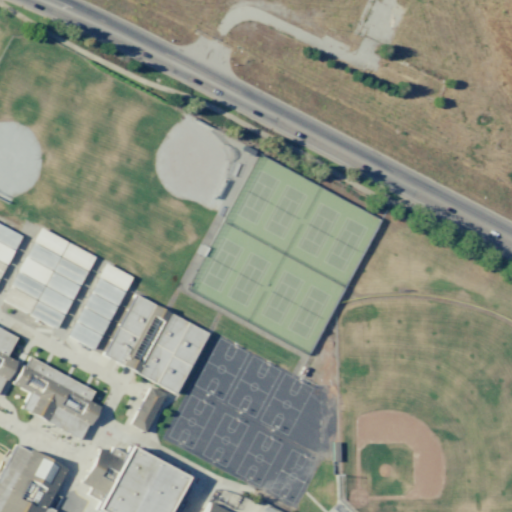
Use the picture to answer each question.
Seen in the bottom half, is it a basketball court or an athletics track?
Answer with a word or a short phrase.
basketball court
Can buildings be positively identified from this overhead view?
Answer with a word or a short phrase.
Yes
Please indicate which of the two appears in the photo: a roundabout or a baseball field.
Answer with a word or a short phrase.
baseball field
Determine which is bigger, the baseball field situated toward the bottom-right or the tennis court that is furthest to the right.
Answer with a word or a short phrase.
the baseball field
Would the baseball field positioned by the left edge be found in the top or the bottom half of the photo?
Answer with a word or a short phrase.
top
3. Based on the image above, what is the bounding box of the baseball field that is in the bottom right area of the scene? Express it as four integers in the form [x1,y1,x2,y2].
[350,410,446,507]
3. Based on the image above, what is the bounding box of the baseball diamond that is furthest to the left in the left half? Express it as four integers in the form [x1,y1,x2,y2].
[0,122,42,196]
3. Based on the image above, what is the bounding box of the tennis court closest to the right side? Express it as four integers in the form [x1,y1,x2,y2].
[326,218,368,270]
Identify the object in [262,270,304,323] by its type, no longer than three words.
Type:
tennis court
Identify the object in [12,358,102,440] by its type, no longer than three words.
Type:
building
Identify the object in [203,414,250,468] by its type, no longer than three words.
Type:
basketball court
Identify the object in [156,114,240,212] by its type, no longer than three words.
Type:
baseball field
